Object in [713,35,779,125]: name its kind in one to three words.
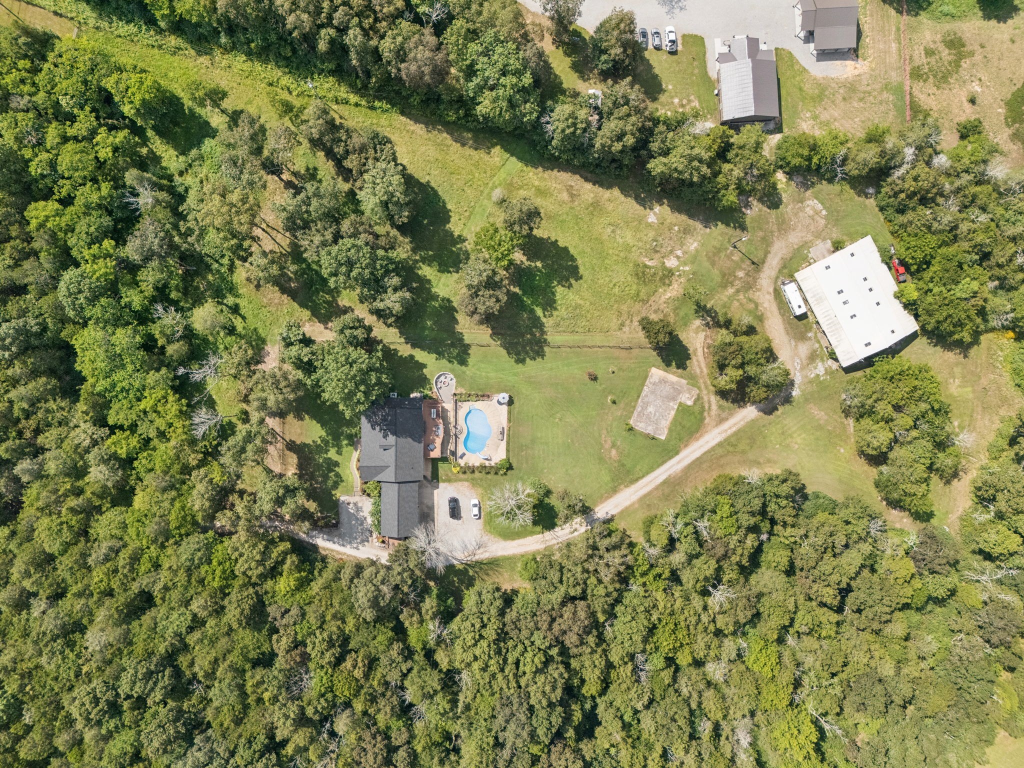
house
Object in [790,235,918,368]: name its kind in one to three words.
barn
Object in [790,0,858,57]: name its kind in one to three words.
house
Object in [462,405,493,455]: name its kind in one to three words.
swimming pool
